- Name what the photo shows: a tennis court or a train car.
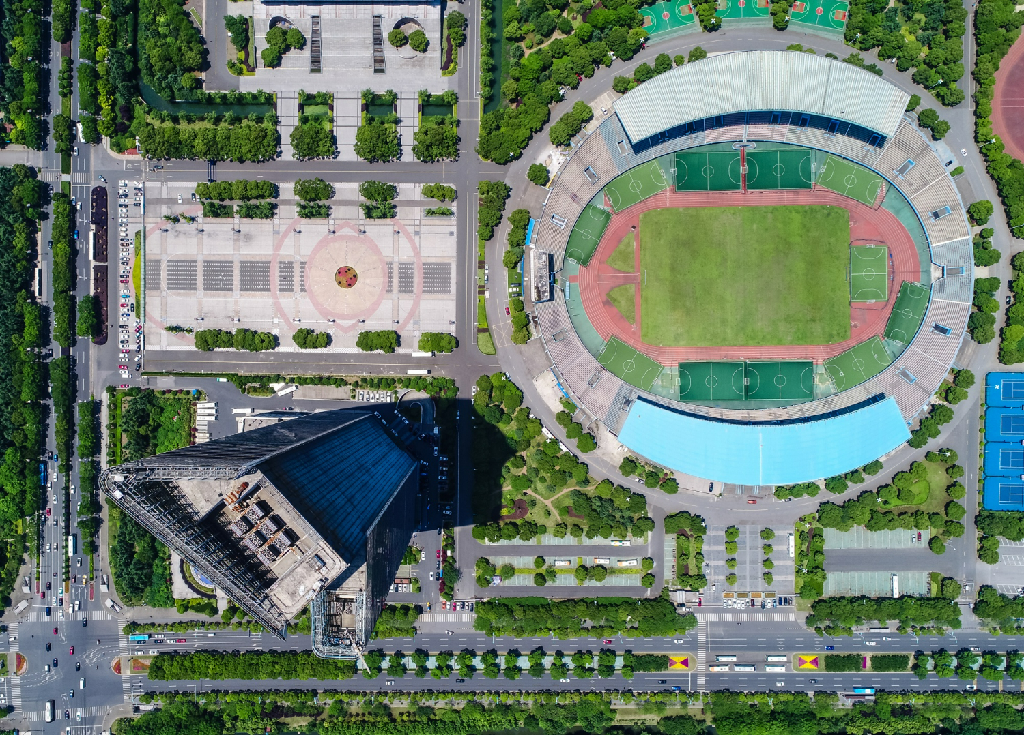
tennis court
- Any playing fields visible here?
Yes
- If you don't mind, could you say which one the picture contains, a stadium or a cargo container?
stadium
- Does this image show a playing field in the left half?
No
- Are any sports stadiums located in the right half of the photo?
Yes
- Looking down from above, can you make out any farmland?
No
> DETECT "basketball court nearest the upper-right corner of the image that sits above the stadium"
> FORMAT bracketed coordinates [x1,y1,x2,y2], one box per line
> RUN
[790,0,848,29]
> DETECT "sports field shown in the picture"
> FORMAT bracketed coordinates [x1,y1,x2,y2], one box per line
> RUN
[640,206,851,347]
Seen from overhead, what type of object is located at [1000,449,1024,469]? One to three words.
tennis court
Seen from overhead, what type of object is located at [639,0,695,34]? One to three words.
basketball court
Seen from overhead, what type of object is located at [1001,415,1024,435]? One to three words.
tennis court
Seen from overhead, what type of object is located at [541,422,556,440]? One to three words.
vehicle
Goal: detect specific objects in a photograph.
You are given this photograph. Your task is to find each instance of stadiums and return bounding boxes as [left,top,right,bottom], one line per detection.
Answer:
[534,49,976,486]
